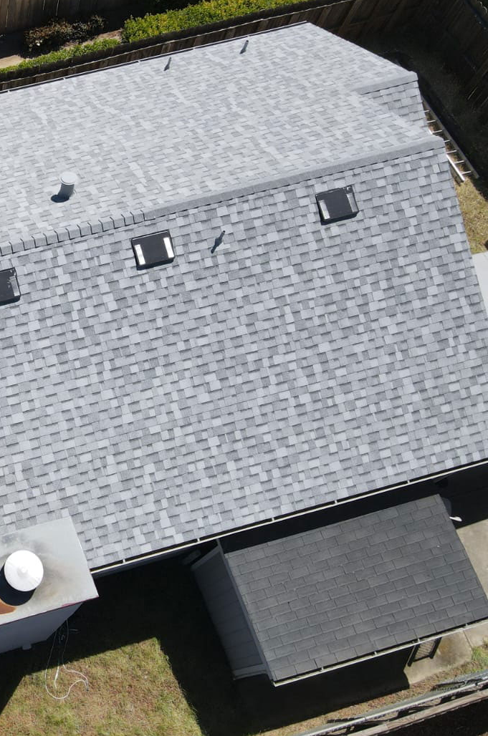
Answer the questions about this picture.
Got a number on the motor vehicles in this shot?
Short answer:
none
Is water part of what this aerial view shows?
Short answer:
No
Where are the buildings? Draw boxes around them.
[199,493,488,695]
[0,18,488,651]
